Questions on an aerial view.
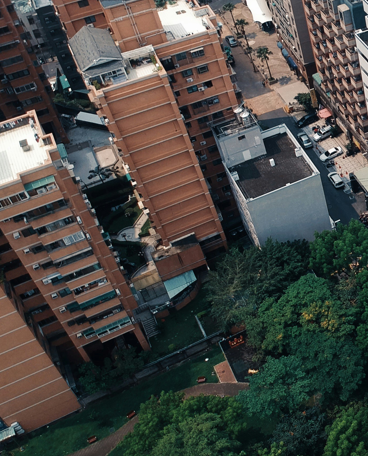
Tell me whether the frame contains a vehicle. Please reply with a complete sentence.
Yes, a vehicle is visible in the scene.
